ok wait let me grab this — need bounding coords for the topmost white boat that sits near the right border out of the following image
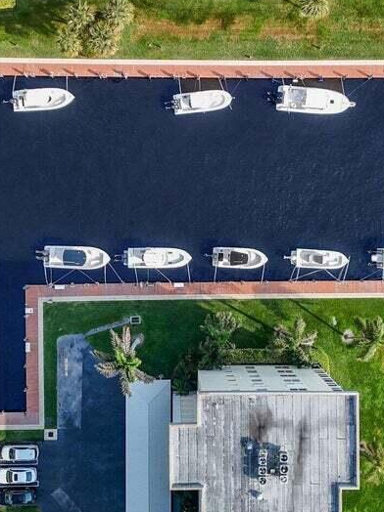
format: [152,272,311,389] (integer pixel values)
[263,77,368,113]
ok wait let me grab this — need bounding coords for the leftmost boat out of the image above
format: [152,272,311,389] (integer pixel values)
[0,76,75,111]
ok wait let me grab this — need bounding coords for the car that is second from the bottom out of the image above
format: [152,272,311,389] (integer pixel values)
[0,466,38,485]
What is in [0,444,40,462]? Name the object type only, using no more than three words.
car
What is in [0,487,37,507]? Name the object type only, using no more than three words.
car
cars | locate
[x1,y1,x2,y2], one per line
[0,487,37,507]
[0,444,40,462]
[0,466,38,485]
